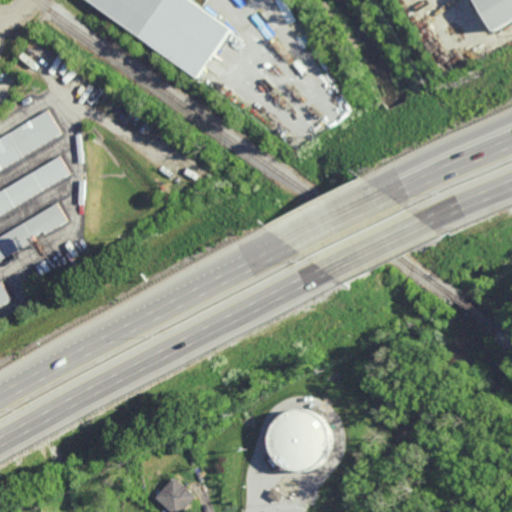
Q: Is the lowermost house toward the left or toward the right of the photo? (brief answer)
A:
left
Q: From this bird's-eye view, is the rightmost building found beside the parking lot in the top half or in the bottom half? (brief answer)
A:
top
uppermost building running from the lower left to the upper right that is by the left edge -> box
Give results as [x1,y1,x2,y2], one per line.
[0,110,66,172]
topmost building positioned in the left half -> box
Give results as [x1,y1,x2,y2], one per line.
[86,0,234,78]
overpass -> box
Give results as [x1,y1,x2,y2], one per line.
[258,170,444,292]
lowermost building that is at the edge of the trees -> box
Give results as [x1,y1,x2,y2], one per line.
[156,480,194,512]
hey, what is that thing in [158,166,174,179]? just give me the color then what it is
white vehicle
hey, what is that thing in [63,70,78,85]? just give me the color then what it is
white vehicle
